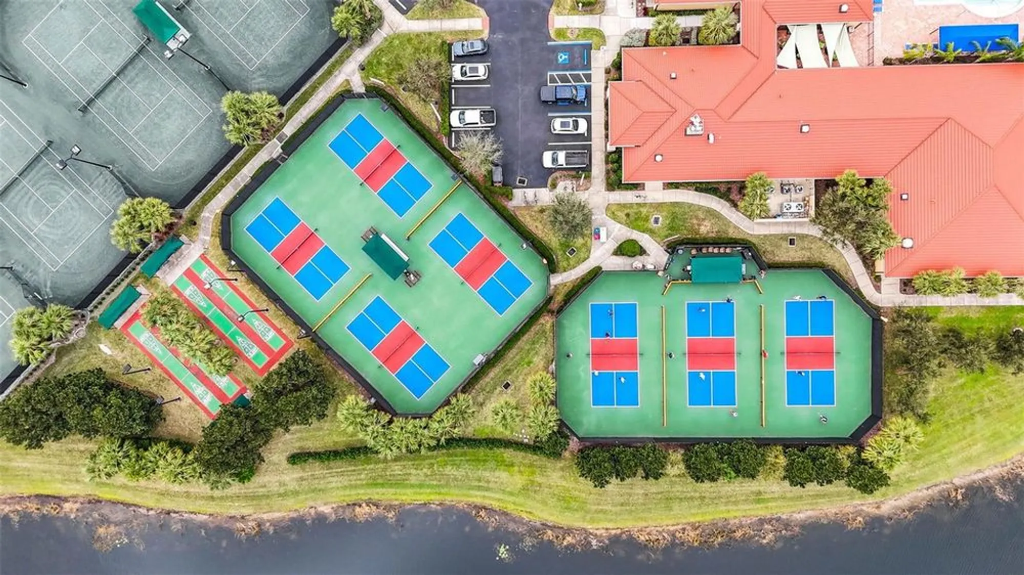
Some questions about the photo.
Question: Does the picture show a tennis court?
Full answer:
Yes, there is a tennis court in the image.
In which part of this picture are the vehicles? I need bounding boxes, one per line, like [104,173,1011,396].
[451,38,488,58]
[452,62,489,81]
[541,149,589,168]
[541,83,587,104]
[550,116,588,135]
[492,167,502,186]
[450,108,496,128]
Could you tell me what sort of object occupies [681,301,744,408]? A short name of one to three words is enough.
sports court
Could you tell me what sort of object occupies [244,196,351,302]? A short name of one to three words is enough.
sports court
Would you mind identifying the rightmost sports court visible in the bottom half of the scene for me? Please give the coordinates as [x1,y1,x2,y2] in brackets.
[779,300,844,407]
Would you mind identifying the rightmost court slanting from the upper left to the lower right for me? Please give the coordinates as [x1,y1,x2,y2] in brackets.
[428,212,534,316]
